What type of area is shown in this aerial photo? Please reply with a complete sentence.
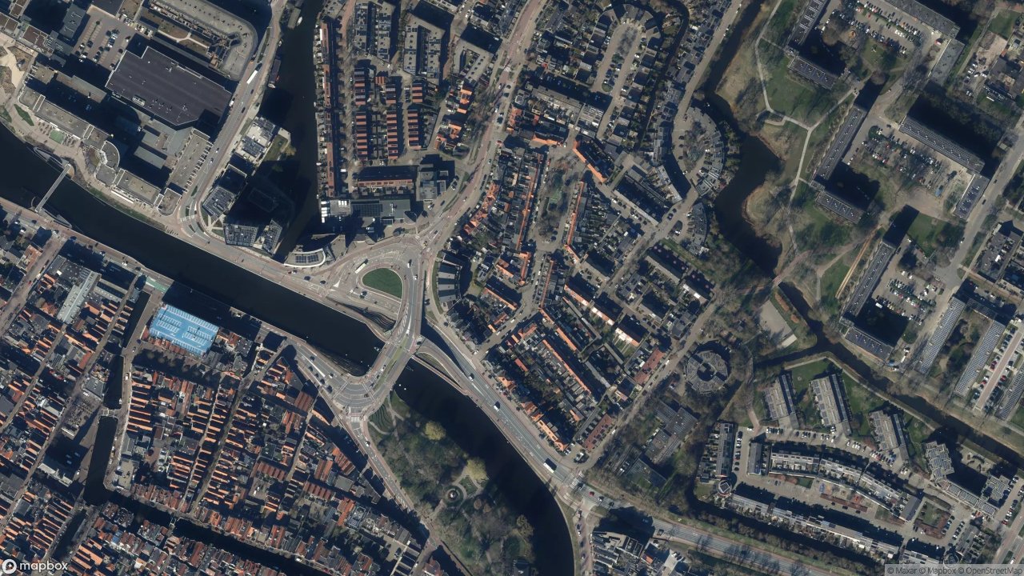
This image shows a residential area.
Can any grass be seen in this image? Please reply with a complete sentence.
Yes, grass shows up in the scene.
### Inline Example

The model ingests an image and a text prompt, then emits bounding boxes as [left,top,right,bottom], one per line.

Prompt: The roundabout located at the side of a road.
[357,264,407,301]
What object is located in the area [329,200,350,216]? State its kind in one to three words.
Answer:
building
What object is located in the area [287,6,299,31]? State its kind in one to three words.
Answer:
boat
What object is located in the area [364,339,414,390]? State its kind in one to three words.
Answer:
bridge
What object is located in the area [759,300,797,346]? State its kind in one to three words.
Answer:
sports court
